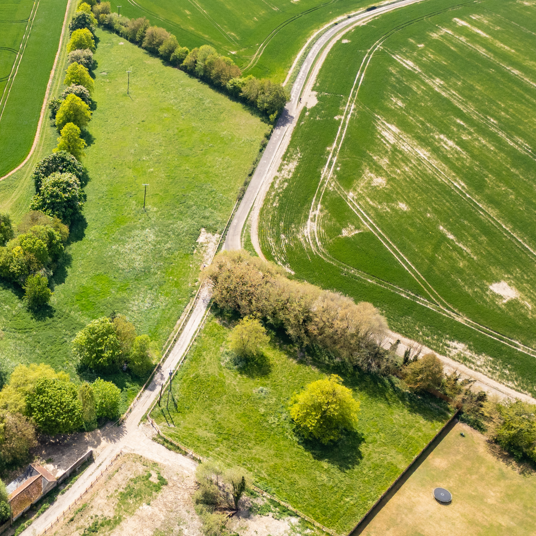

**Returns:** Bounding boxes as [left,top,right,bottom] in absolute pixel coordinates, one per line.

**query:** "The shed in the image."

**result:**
[4,464,56,521]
